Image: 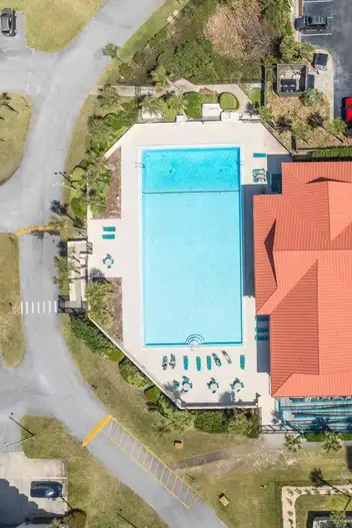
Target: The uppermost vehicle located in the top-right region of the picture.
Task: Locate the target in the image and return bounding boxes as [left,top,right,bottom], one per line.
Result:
[295,14,328,32]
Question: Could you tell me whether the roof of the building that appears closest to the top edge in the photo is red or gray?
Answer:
red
